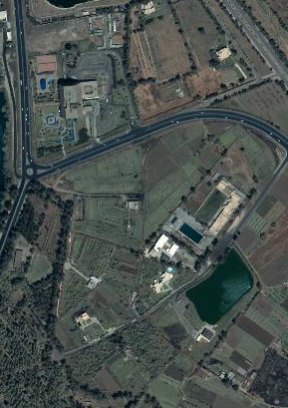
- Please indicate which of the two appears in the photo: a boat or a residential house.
residential house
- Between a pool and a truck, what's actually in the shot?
pool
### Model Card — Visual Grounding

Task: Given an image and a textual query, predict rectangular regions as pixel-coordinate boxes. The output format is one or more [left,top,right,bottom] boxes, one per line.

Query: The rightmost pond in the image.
[186,247,253,324]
